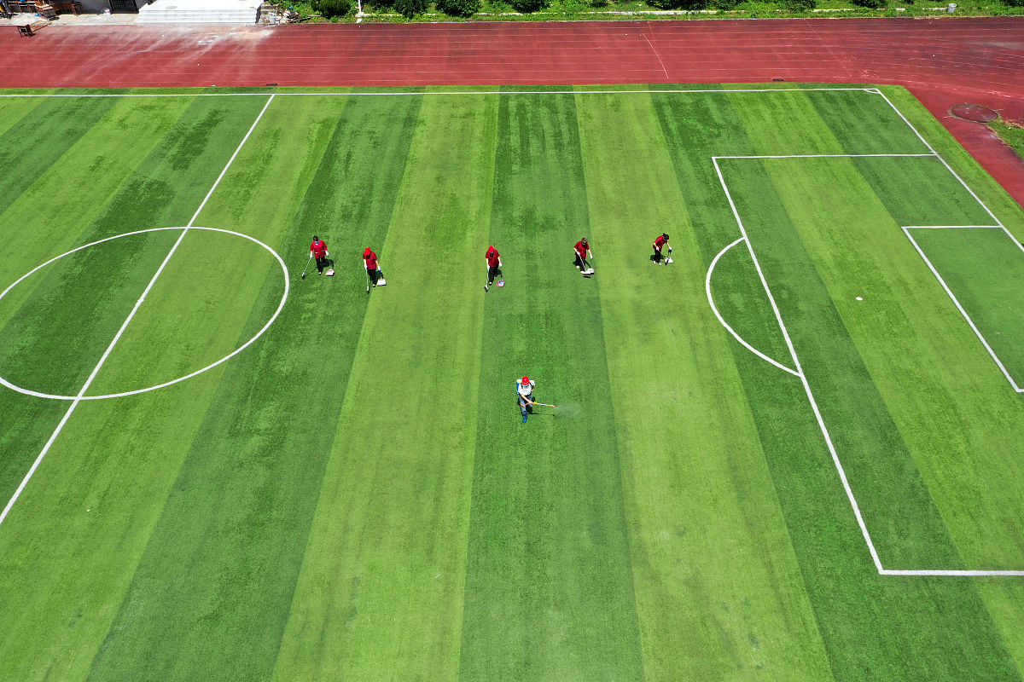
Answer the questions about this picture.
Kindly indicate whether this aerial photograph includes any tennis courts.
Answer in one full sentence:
No, no tennis court is visible in the scene.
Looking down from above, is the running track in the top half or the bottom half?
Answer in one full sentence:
It is in the top half that the running track appears.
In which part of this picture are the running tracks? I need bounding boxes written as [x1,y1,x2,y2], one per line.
[0,15,1024,210]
